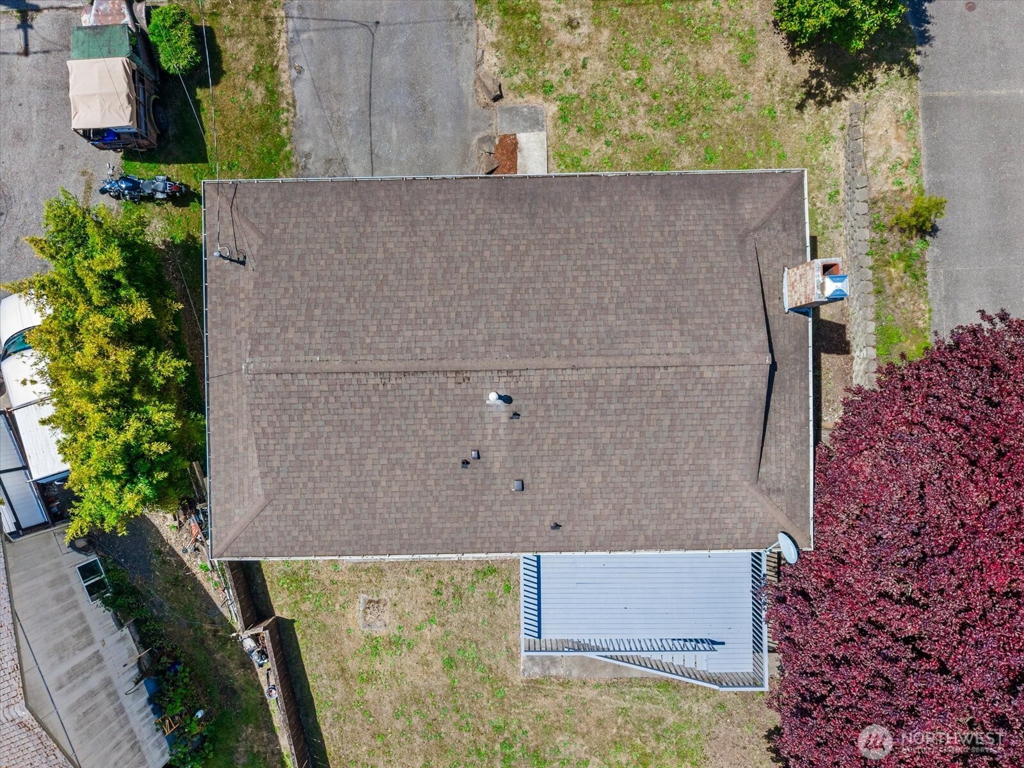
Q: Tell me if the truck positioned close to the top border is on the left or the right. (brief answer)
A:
left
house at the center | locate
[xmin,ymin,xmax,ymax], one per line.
[202,168,847,562]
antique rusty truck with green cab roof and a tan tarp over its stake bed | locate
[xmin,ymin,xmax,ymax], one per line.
[66,0,174,157]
